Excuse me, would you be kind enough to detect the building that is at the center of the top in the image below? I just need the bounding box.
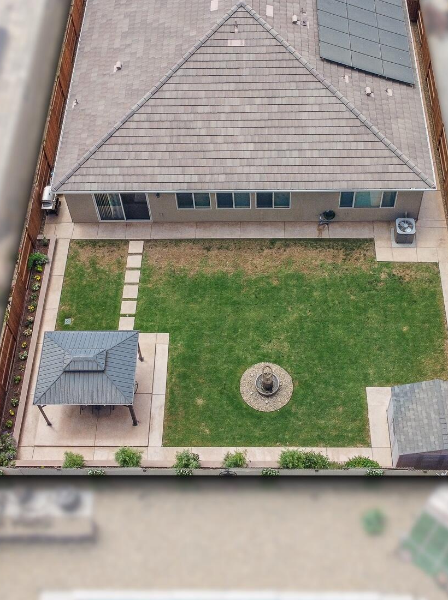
[49,0,438,223]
